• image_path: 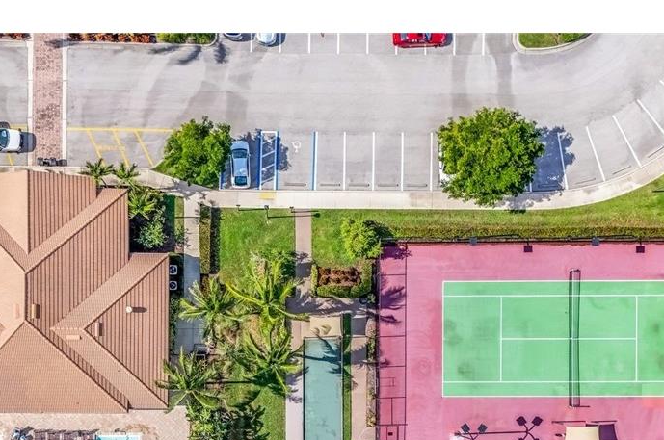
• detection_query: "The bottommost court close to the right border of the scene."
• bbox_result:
[442,281,664,397]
